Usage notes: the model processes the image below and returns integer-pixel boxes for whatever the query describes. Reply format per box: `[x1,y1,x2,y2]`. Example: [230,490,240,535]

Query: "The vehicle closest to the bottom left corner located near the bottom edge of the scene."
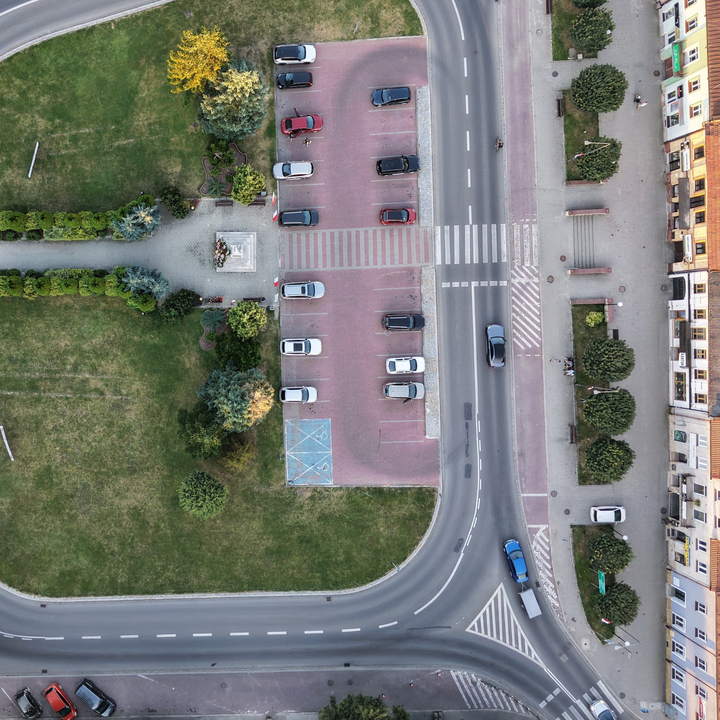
[15,684,44,720]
